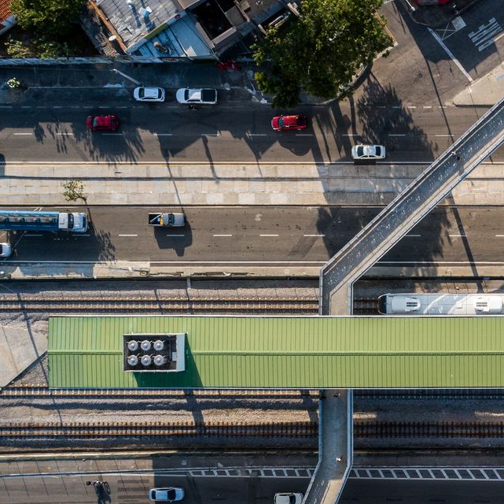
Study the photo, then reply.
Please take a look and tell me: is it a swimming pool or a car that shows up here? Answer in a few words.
car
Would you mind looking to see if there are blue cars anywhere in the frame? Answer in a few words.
Yes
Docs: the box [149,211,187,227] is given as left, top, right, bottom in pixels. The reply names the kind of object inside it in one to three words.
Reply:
vehicle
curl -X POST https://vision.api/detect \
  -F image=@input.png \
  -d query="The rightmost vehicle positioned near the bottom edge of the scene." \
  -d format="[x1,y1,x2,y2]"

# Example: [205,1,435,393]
[273,490,304,504]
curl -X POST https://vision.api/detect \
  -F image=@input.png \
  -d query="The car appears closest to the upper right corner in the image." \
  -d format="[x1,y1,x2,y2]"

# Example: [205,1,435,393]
[352,143,386,160]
